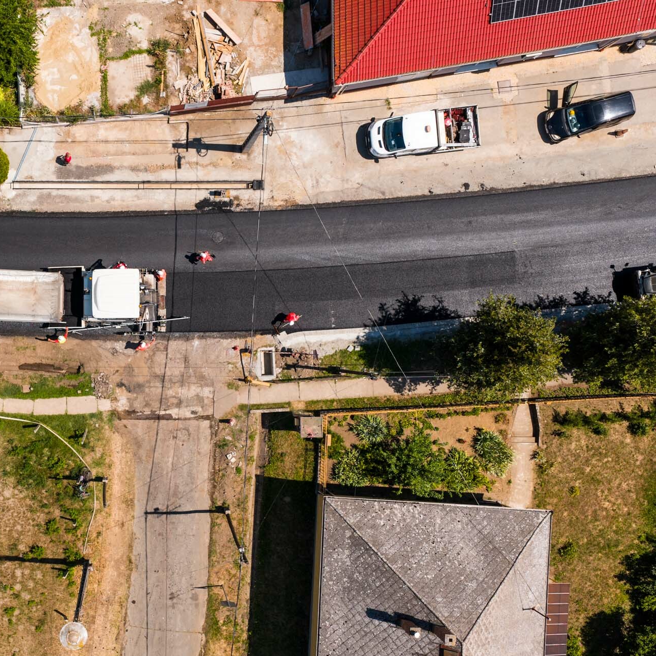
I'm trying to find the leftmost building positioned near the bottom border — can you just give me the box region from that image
[308,490,555,656]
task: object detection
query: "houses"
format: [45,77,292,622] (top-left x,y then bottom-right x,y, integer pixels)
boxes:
[308,490,555,656]
[325,0,656,96]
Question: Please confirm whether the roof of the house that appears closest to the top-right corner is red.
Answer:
Yes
